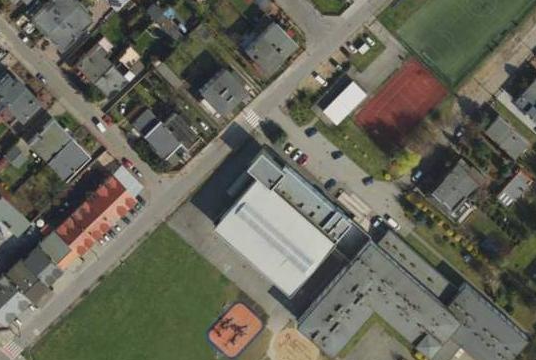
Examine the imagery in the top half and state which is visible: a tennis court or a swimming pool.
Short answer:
tennis court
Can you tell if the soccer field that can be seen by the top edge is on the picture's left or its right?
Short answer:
right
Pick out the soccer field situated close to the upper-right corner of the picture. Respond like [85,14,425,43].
[392,0,536,90]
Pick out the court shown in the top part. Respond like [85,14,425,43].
[353,60,448,147]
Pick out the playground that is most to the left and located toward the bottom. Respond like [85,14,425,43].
[207,302,263,358]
